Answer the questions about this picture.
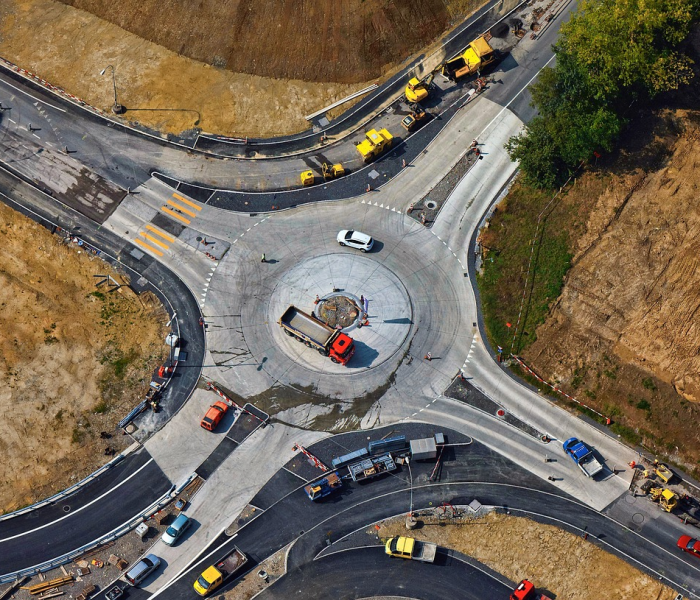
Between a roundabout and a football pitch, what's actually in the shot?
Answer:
roundabout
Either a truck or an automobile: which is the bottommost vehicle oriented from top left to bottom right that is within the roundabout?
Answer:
truck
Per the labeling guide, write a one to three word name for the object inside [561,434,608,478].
truck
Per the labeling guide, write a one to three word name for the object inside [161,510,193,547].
car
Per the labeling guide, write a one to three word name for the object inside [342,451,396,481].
trailer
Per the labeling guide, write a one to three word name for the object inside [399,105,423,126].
work vehicle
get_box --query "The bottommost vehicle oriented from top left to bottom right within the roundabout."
[277,301,360,366]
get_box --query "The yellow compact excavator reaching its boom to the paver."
[409,64,446,103]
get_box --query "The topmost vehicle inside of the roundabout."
[336,230,375,254]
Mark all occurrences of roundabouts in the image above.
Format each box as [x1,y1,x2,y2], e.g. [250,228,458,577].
[205,202,477,432]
